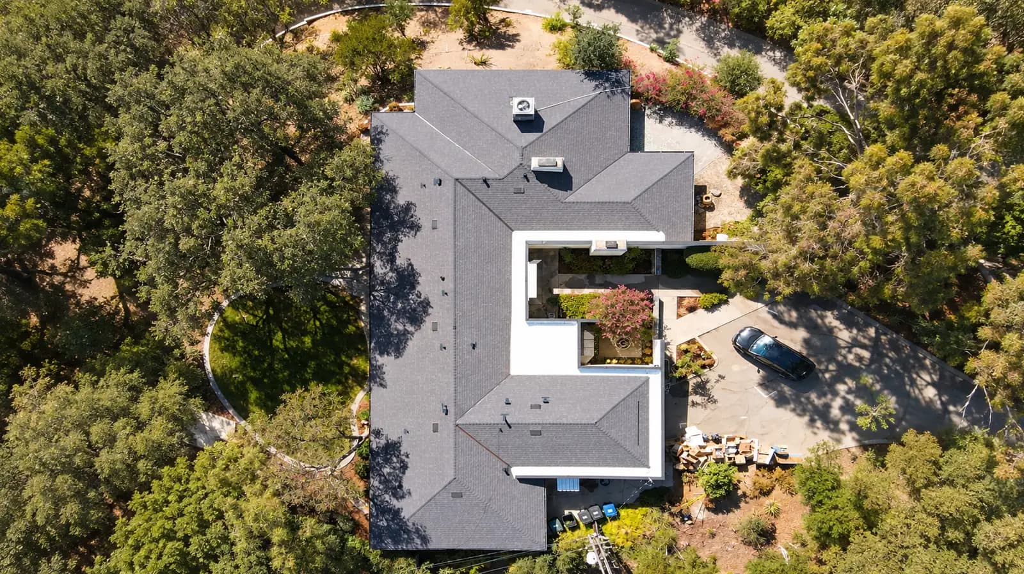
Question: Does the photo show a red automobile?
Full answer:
No, the frame has no red automobile in it.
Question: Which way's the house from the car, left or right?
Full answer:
The car has the house on its left side.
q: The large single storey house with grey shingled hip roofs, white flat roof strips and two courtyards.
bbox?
[368,66,754,551]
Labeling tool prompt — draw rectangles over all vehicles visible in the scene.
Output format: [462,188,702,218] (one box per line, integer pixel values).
[730,324,818,382]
